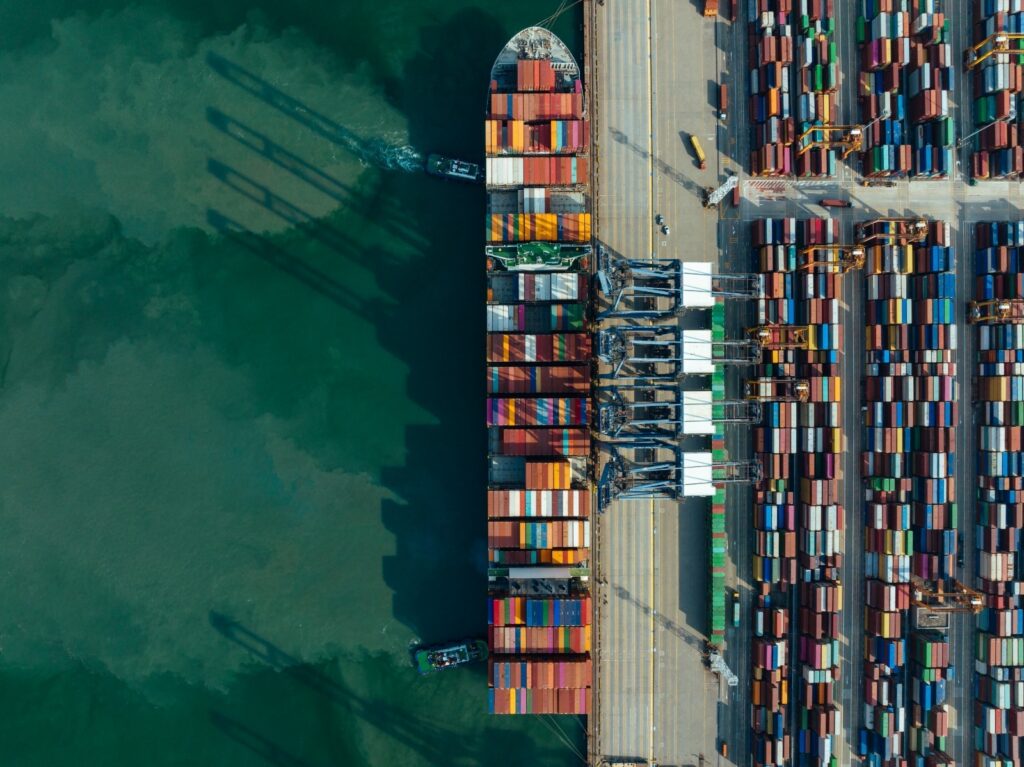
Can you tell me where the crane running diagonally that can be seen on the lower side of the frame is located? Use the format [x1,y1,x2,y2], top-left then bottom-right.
[699,637,738,686]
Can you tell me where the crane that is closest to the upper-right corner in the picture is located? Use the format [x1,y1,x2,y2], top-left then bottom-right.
[957,33,1024,79]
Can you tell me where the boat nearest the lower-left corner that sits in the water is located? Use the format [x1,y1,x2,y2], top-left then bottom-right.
[414,639,488,675]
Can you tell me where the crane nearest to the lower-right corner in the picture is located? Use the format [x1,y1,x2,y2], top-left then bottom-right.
[913,579,990,611]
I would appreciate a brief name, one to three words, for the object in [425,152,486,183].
boat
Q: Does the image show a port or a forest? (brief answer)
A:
port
